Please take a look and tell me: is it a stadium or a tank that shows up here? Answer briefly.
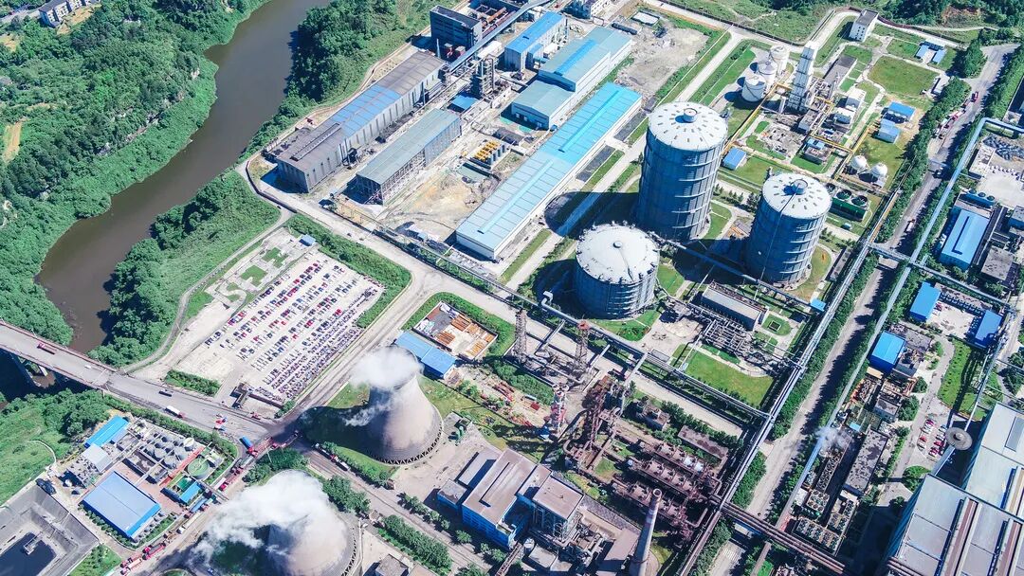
tank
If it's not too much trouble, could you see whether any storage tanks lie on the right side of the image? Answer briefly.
Yes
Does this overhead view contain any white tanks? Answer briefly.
Yes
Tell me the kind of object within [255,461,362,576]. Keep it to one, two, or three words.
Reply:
cooling tower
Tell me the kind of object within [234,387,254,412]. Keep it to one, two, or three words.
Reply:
shed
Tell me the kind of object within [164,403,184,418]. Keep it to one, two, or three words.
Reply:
vehicle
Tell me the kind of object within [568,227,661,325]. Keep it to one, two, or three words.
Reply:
storage tank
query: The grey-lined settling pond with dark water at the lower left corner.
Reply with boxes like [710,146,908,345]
[0,483,100,576]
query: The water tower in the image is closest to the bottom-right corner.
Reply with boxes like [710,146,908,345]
[932,424,979,480]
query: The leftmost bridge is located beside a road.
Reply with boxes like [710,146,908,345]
[0,322,117,386]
